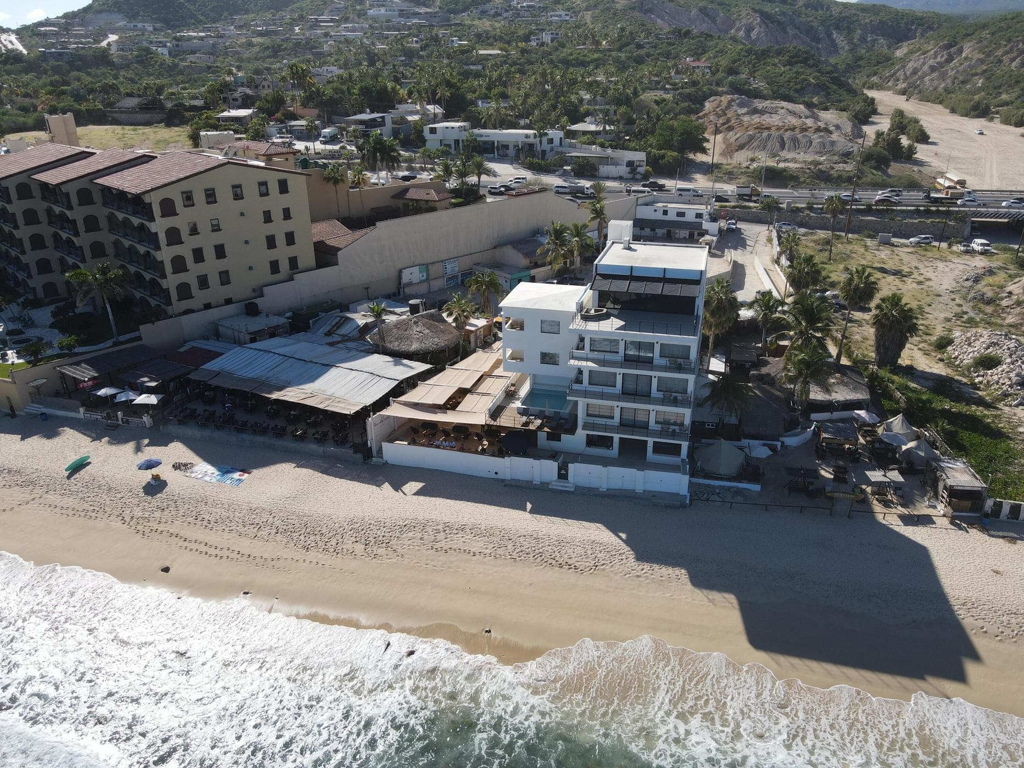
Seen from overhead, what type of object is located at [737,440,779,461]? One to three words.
umbrella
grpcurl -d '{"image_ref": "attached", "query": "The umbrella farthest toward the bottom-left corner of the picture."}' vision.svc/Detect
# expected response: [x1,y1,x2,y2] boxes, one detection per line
[132,458,162,472]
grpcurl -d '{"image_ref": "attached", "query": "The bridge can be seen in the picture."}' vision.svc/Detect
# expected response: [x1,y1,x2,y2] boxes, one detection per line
[929,191,1024,242]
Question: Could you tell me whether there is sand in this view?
Yes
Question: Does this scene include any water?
Yes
